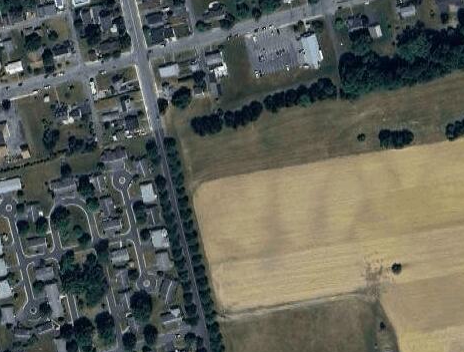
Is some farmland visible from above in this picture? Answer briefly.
Yes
